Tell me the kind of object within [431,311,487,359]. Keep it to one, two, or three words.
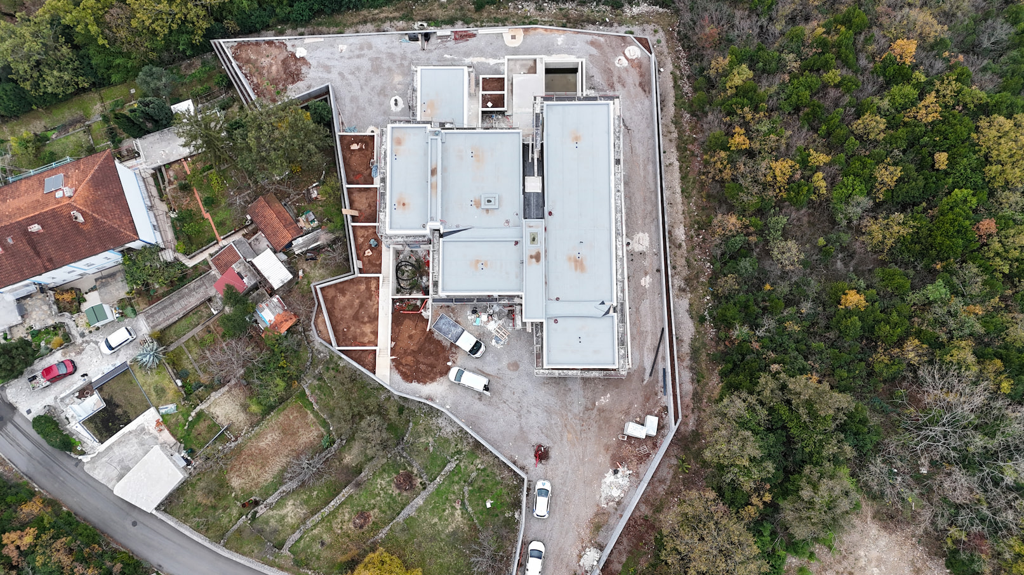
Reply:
truck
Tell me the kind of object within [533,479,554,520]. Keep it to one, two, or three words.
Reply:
car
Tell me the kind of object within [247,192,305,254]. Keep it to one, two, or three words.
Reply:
shed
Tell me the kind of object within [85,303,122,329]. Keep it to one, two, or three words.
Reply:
greenhouse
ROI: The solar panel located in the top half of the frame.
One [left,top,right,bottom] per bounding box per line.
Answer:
[43,172,62,192]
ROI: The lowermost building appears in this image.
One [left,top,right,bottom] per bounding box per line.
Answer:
[114,445,189,513]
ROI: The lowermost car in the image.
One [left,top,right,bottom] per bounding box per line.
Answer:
[524,540,547,575]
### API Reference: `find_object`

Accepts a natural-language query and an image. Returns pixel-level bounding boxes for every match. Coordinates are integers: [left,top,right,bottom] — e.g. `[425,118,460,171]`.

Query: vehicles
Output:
[447,367,493,397]
[24,358,78,393]
[524,540,547,575]
[100,324,139,356]
[533,479,554,520]
[431,311,487,359]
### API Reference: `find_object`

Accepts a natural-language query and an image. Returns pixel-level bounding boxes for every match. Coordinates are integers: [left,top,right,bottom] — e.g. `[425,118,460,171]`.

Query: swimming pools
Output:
[540,49,585,109]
